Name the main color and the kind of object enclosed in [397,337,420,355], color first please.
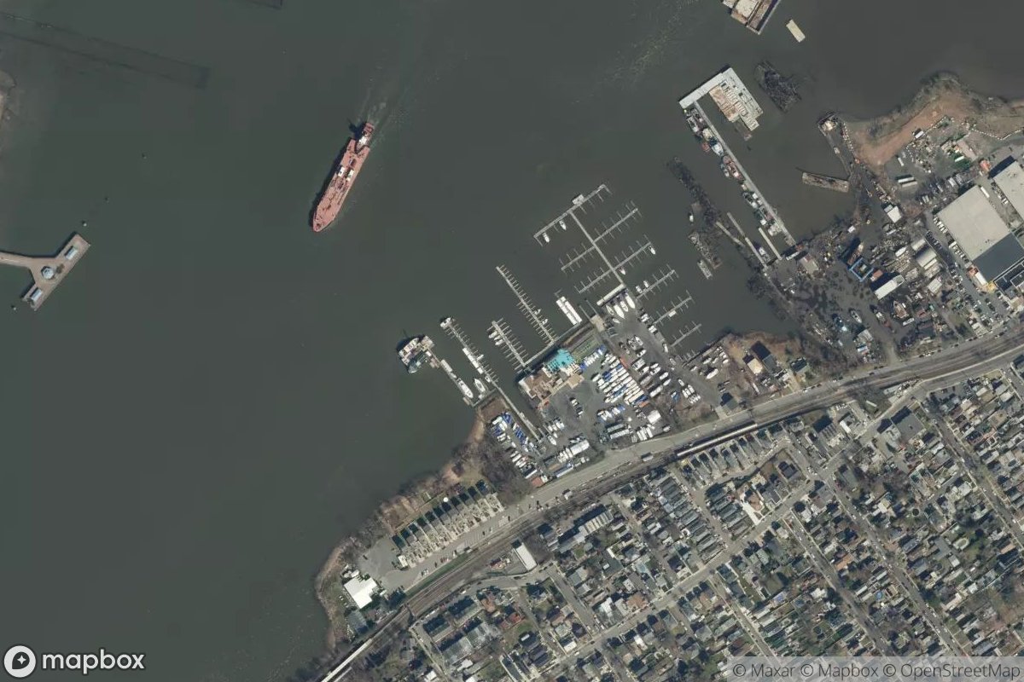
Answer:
white boat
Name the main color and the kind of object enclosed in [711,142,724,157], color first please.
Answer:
white boat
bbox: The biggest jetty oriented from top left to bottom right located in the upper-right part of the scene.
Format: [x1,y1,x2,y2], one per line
[693,102,797,246]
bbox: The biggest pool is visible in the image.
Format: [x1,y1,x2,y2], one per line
[546,348,575,371]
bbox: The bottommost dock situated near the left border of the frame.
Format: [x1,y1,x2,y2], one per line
[0,233,91,311]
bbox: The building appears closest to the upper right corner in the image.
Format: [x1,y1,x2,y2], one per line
[994,156,1024,221]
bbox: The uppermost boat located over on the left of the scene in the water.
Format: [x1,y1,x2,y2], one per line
[357,120,376,151]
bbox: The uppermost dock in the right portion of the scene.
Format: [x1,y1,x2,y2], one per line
[679,69,730,106]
